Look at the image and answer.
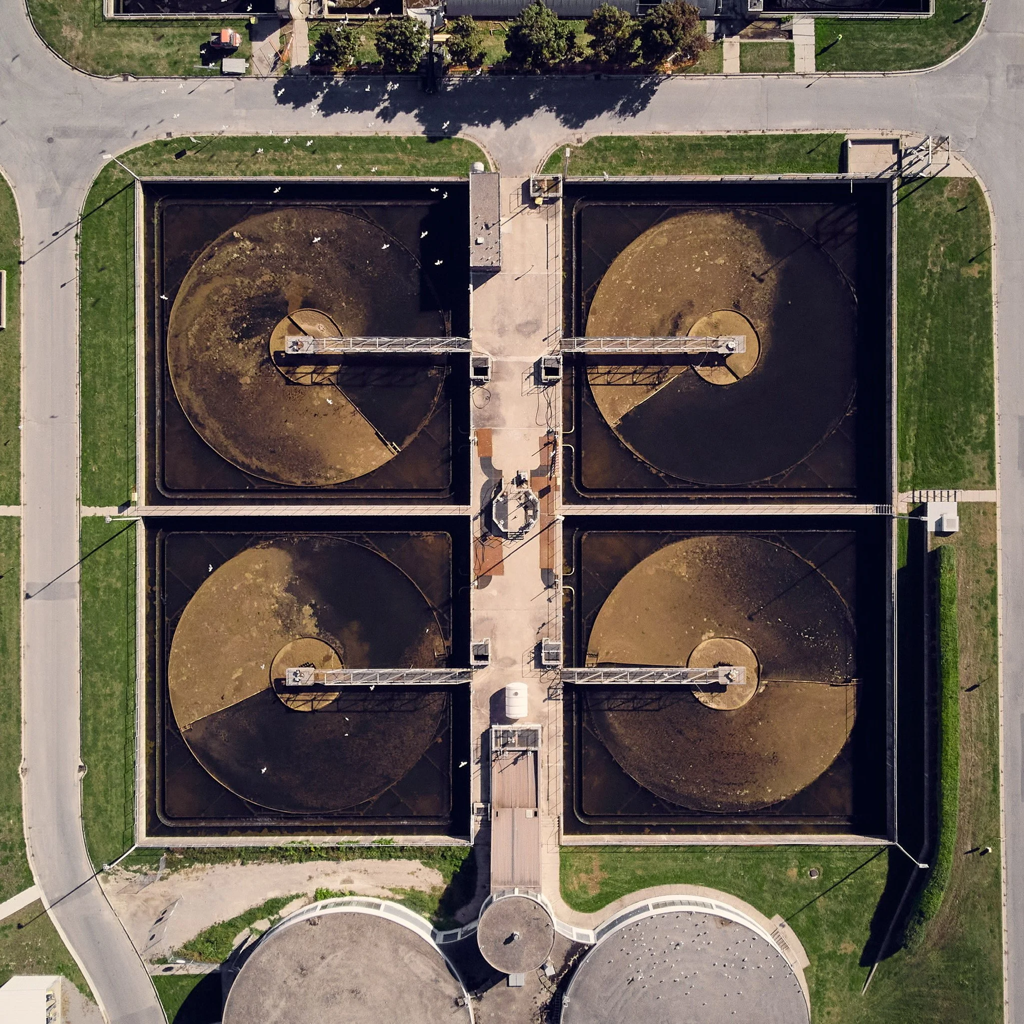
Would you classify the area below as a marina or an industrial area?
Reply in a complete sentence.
The area seen from above is an industrial area.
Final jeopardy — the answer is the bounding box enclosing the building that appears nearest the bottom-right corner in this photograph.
[558,896,809,1024]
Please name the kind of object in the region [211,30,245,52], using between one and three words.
vehicle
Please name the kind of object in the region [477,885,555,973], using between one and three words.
building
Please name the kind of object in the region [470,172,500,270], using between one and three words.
shed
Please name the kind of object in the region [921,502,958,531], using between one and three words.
building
